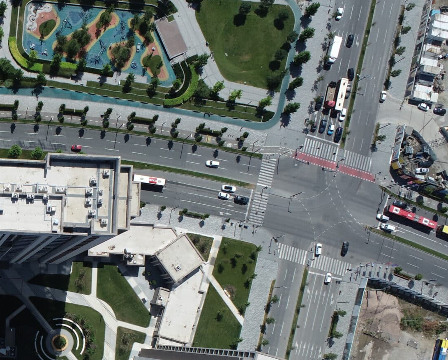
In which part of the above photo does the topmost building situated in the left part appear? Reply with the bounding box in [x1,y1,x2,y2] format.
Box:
[154,12,188,60]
